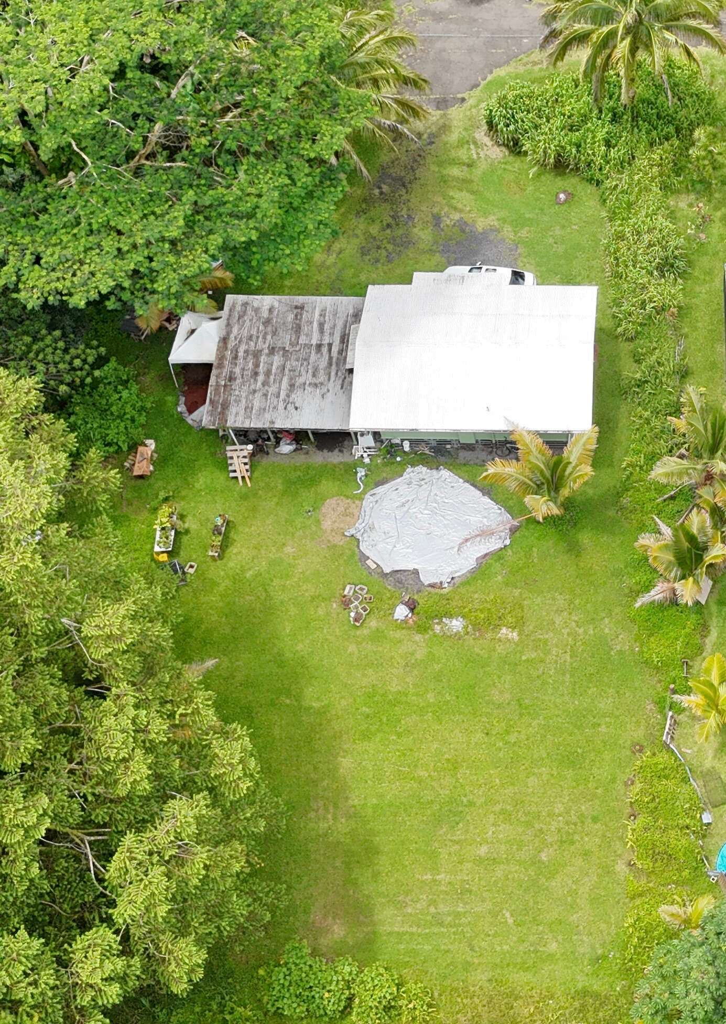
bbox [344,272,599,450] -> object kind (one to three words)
house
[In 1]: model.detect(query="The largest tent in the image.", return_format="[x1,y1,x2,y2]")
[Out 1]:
[168,310,222,387]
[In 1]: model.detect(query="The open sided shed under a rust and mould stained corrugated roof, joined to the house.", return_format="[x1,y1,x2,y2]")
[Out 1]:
[202,294,365,443]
